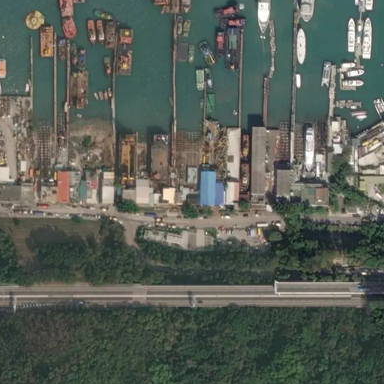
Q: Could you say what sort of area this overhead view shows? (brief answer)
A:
port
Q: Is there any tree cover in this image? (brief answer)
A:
Yes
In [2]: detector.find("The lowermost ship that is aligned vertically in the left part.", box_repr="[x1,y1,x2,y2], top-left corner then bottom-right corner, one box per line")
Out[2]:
[120,134,136,178]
